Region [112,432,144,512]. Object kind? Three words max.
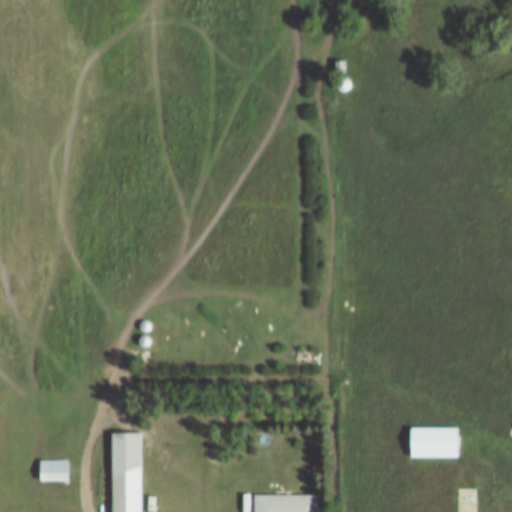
barn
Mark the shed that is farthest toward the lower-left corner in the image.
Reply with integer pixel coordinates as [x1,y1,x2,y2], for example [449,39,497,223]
[39,460,71,482]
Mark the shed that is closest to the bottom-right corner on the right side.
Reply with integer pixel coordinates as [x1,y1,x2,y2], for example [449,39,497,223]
[410,426,460,459]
